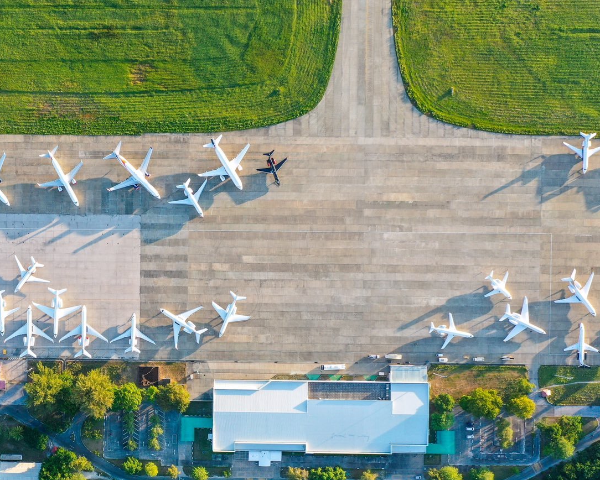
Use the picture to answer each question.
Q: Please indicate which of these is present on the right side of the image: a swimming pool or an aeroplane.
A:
aeroplane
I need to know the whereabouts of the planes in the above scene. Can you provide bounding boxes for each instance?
[170,175,208,217]
[562,323,600,368]
[60,306,108,357]
[0,291,20,336]
[501,295,546,342]
[31,288,81,337]
[562,131,600,174]
[211,292,251,337]
[432,313,473,348]
[484,270,511,299]
[4,306,54,357]
[106,143,161,199]
[256,149,288,186]
[14,254,51,292]
[161,305,208,348]
[39,147,83,206]
[556,270,597,316]
[112,313,157,354]
[198,134,250,189]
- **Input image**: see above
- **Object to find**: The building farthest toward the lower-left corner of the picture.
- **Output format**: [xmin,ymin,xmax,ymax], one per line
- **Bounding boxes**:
[0,462,43,480]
